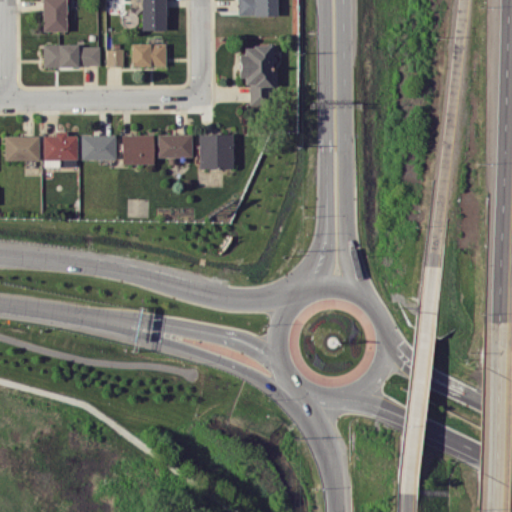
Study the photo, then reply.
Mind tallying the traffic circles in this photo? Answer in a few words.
one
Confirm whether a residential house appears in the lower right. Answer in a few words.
No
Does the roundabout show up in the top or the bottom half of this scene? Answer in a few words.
bottom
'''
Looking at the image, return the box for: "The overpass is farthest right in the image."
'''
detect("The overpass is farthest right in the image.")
[481,322,512,512]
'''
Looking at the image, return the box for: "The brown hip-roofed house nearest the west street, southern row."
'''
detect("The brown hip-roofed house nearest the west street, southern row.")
[4,137,41,162]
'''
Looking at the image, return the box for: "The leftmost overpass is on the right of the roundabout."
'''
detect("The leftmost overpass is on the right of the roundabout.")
[397,267,456,496]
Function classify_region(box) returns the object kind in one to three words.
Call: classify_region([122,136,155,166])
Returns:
house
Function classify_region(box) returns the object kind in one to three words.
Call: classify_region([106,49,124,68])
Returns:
building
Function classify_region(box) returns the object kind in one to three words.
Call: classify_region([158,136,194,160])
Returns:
house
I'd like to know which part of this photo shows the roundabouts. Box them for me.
[272,282,395,404]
